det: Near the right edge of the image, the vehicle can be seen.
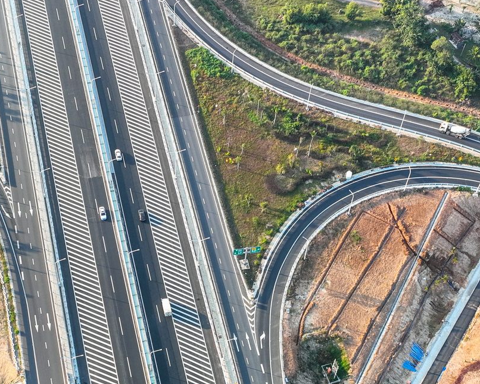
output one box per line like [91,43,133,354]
[440,118,470,137]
